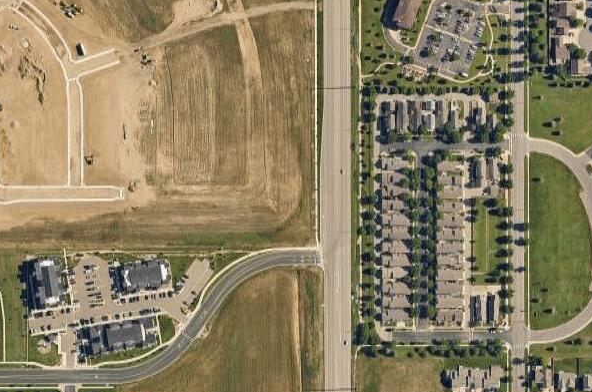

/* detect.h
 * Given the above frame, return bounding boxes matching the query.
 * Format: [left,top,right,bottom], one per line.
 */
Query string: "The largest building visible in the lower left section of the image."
[77,319,150,356]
